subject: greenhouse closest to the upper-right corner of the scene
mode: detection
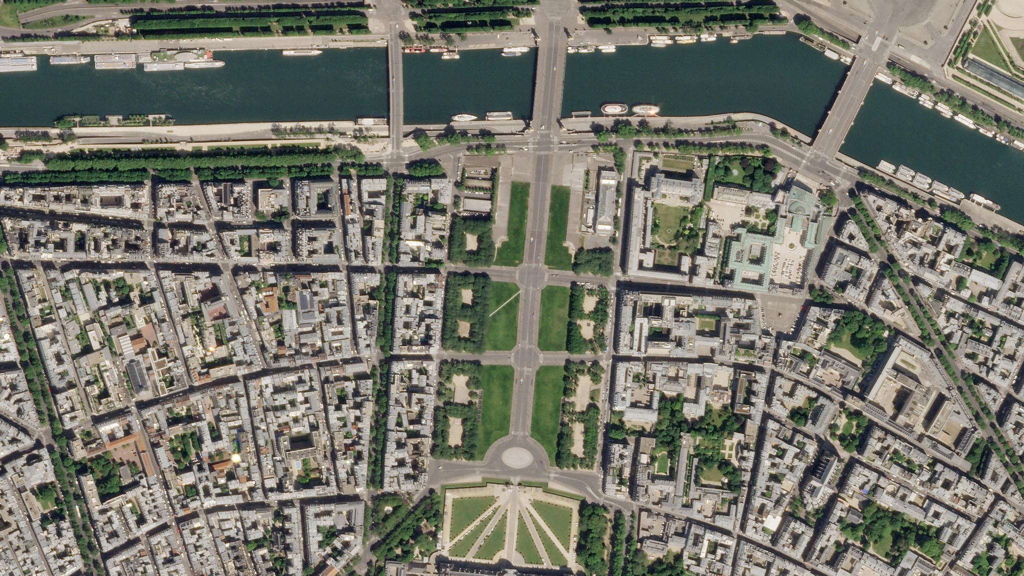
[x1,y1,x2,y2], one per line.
[963,58,1024,97]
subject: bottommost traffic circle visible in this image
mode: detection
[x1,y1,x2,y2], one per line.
[484,437,550,483]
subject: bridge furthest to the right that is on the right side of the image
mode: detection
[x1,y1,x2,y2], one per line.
[812,53,881,156]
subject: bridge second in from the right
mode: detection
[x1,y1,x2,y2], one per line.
[533,29,567,132]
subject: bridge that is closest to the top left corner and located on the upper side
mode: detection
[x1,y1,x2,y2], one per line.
[387,33,405,138]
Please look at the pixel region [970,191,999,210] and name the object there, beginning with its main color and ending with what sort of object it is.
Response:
white boat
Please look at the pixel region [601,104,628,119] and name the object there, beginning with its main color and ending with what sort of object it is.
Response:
white boat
